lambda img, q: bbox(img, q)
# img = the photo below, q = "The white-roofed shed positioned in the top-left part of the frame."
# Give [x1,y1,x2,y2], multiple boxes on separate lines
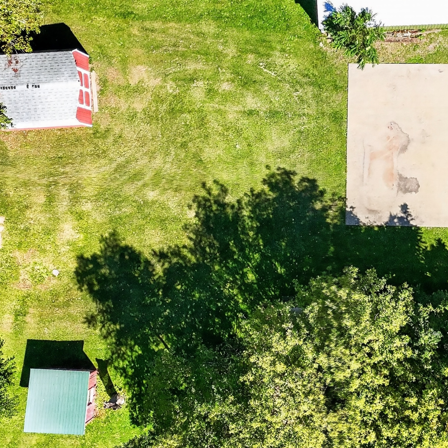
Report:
[0,46,92,132]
